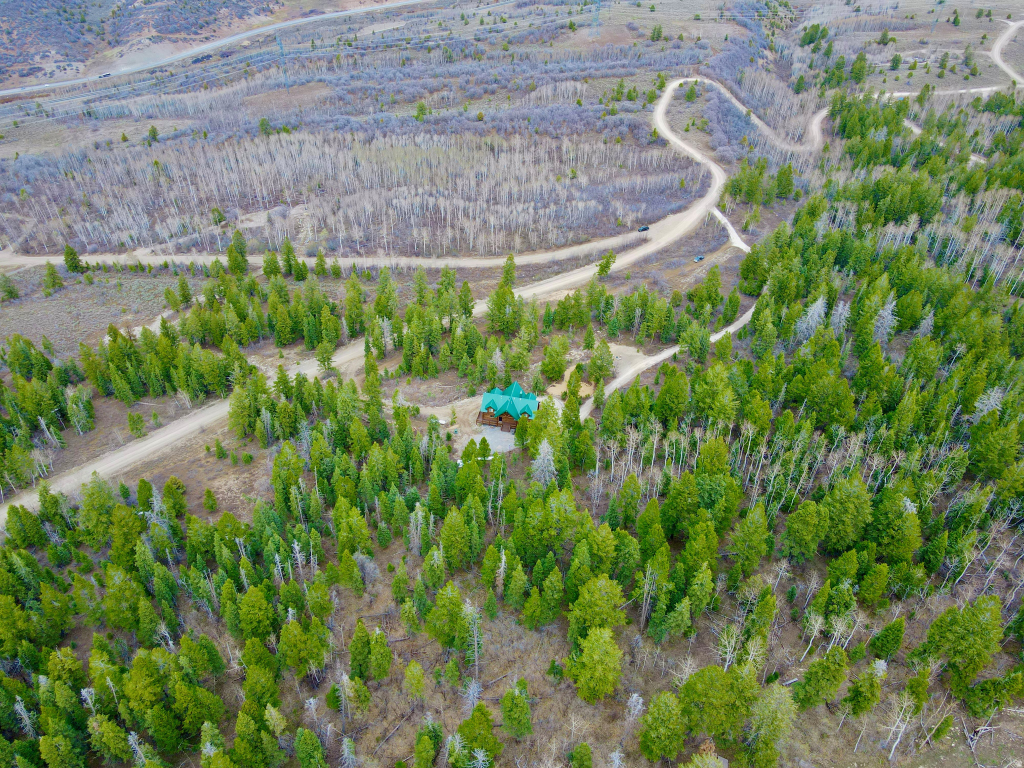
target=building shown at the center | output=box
[473,383,540,438]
